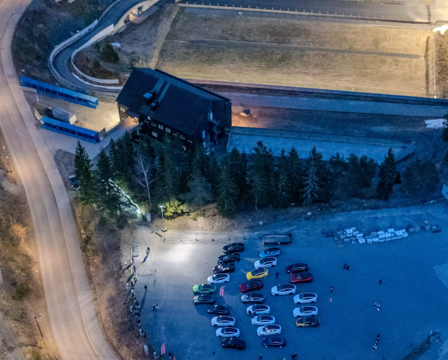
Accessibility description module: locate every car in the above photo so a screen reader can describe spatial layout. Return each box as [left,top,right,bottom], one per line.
[216,326,240,339]
[207,304,231,316]
[240,279,263,293]
[193,293,216,304]
[252,315,276,326]
[211,315,236,327]
[262,336,287,348]
[272,283,296,296]
[193,283,217,295]
[247,267,270,280]
[294,292,318,304]
[257,324,282,337]
[213,261,236,274]
[218,250,241,262]
[247,303,271,316]
[294,304,318,317]
[222,240,246,252]
[259,246,282,258]
[286,262,310,274]
[291,273,314,284]
[241,293,265,304]
[208,272,231,283]
[255,256,278,269]
[221,338,247,351]
[69,173,80,189]
[296,316,321,327]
